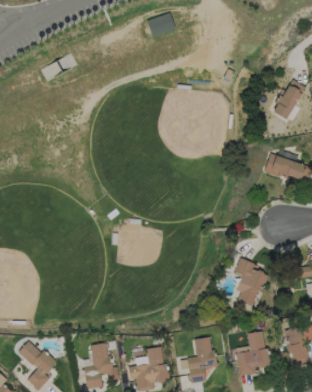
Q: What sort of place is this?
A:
sports ground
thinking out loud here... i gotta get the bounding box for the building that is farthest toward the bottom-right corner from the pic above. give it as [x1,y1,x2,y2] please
[286,328,308,364]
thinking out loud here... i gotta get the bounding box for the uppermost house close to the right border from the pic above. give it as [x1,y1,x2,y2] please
[274,76,308,120]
